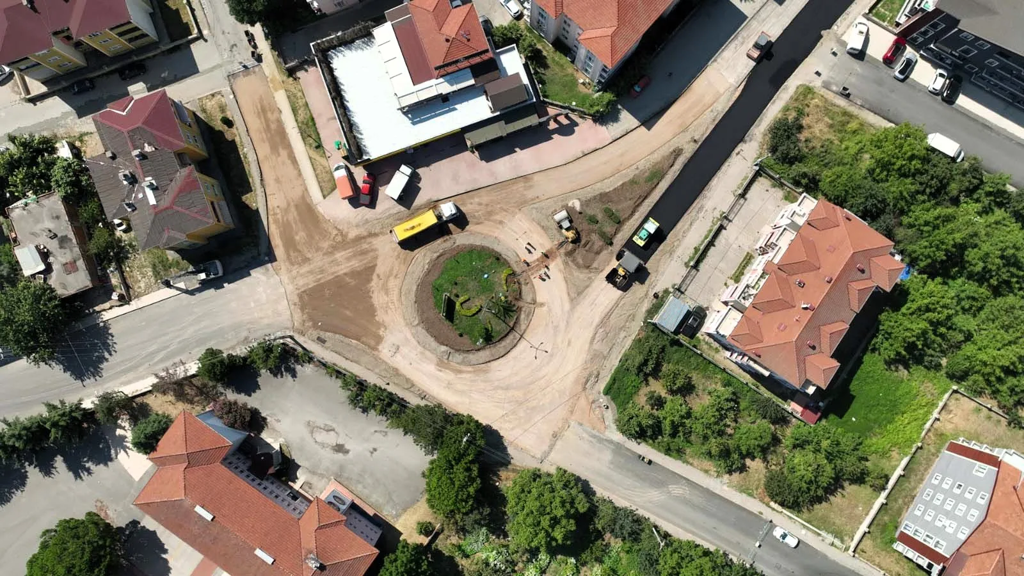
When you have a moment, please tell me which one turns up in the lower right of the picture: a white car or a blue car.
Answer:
white car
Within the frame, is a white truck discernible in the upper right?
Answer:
Yes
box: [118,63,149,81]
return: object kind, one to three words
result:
car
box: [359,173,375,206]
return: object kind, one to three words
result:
vehicle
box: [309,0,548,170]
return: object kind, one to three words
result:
building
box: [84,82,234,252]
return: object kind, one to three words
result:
house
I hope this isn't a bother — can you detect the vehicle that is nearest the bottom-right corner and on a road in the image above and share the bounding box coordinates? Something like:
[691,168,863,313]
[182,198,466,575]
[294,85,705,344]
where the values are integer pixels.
[770,525,800,547]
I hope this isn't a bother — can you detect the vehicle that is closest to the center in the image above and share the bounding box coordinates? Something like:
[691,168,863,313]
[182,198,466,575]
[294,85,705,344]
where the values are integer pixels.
[552,208,577,252]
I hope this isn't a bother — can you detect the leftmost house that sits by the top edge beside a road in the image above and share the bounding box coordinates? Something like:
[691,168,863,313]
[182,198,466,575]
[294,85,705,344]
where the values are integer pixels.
[0,0,158,96]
